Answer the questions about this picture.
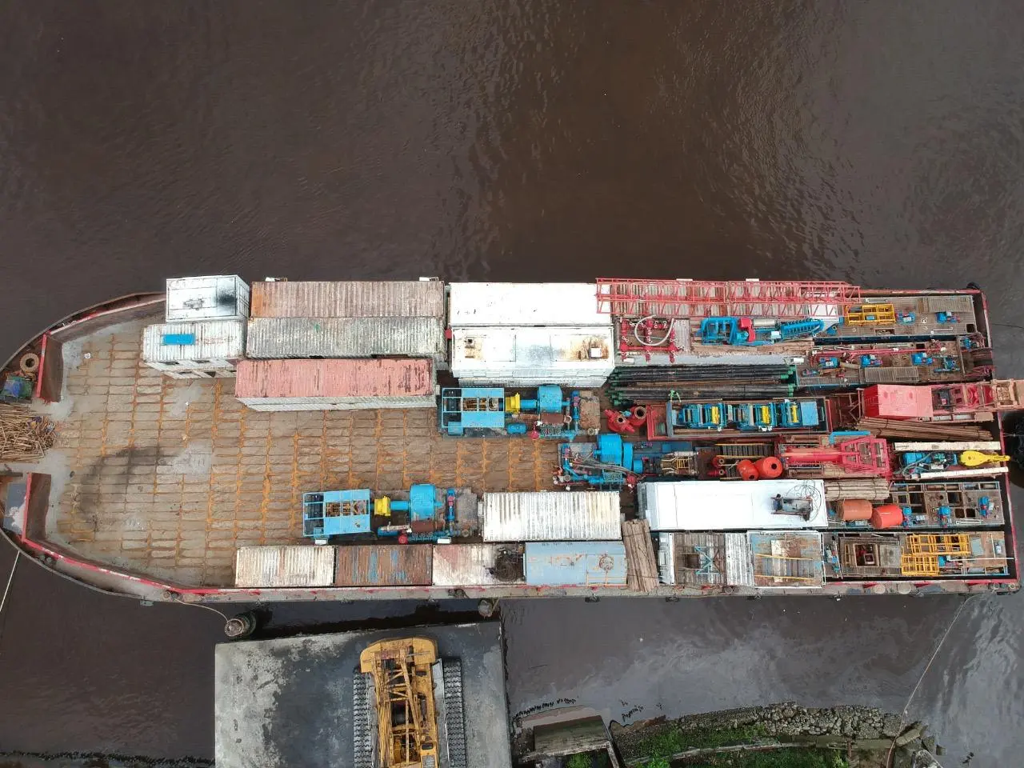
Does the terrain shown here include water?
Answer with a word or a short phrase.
Yes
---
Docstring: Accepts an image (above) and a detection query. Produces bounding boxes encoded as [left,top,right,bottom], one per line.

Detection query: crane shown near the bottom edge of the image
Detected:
[356,637,467,768]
